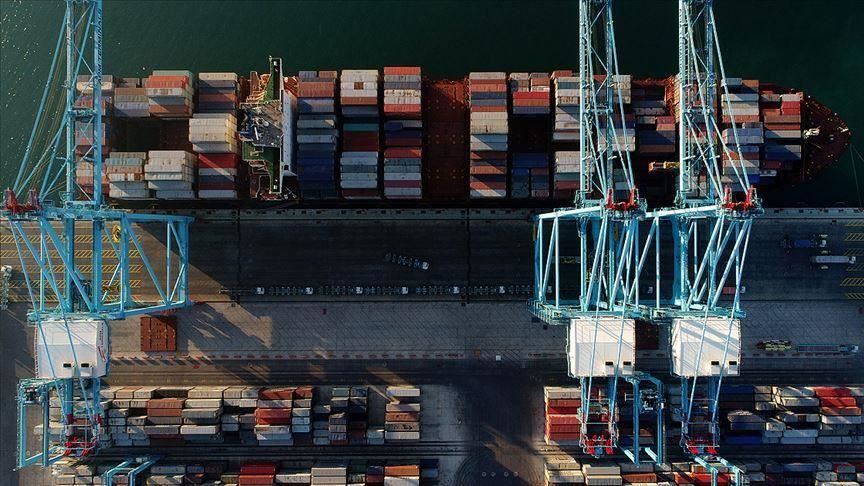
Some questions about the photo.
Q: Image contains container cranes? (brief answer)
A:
Yes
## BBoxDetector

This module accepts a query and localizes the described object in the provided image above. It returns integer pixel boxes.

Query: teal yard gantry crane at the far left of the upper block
[14,375,89,470]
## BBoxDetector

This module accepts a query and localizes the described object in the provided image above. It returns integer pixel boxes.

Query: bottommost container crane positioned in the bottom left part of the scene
[100,453,167,486]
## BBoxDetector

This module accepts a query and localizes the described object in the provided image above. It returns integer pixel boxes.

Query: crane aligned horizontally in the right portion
[690,453,757,486]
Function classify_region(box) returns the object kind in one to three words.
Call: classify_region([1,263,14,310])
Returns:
vehicle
